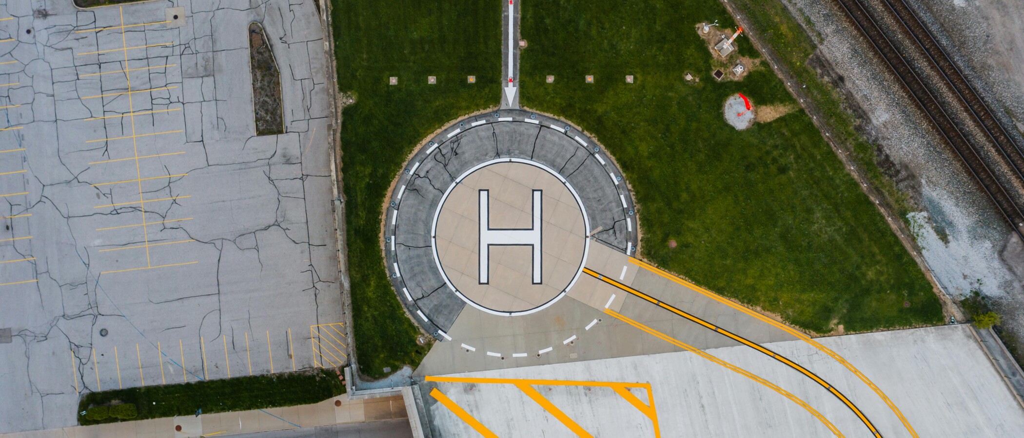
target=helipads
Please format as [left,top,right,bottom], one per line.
[384,111,637,358]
